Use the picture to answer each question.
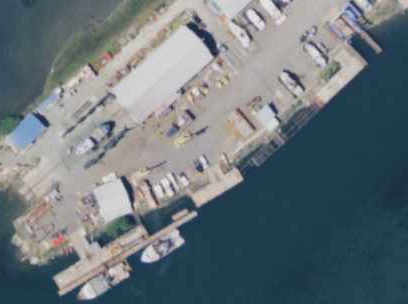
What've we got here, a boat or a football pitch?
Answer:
boat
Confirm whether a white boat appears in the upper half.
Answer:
Yes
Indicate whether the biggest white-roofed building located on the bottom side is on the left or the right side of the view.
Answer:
left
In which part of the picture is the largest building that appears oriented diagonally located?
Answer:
top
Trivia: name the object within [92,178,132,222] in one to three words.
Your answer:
building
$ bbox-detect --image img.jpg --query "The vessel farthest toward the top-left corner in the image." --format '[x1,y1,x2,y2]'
[71,126,110,156]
